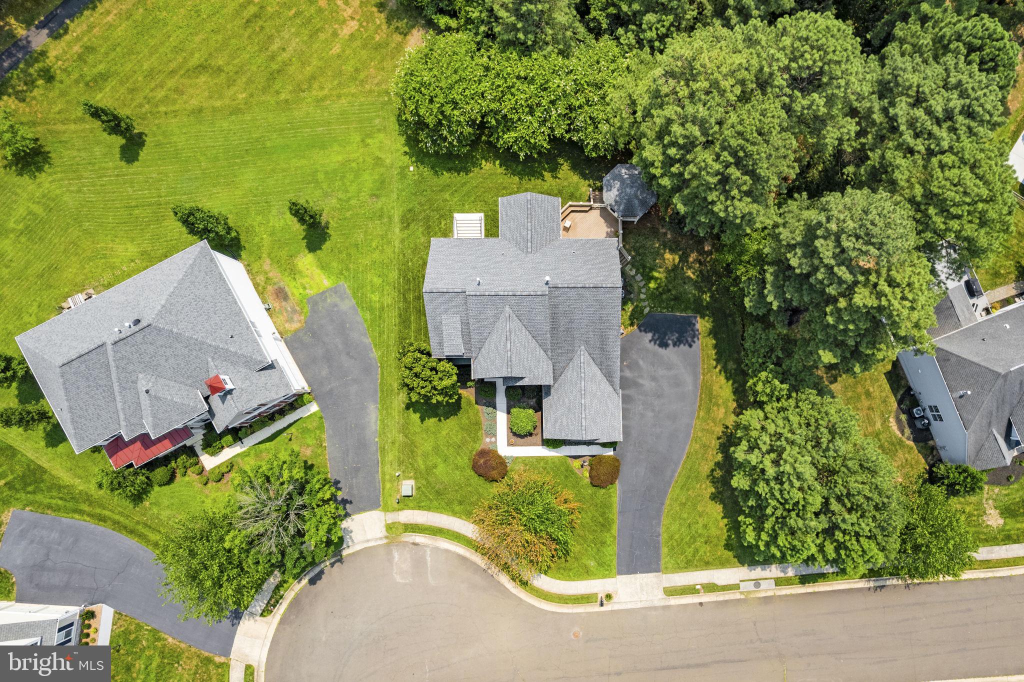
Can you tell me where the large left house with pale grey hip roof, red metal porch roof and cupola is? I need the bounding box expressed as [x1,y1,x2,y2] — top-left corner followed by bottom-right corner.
[15,239,313,472]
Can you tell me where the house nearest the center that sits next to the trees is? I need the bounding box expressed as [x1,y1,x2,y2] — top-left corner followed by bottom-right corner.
[423,192,623,443]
